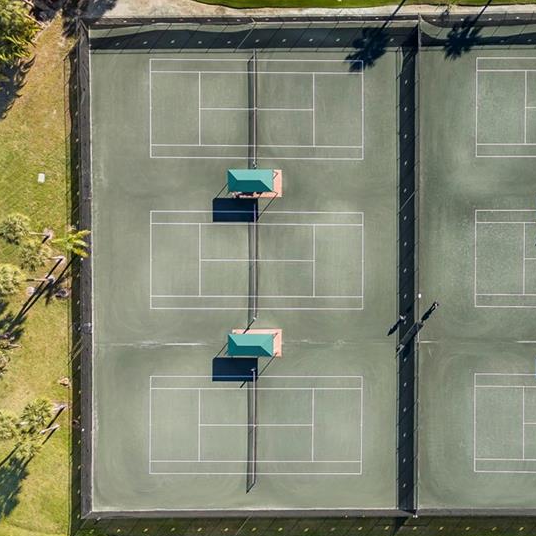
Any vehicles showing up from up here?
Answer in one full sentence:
No, no vehicle is visible in the view.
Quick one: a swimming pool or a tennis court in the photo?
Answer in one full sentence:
Visible in the photo is a tennis court.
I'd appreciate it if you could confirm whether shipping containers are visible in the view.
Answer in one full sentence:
No, no shipping container can be seen from above.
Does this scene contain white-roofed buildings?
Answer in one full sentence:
No, there appears to be no white-roofed building in this shot.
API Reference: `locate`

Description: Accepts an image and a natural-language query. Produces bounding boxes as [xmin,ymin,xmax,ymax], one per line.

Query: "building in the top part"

[228,169,282,197]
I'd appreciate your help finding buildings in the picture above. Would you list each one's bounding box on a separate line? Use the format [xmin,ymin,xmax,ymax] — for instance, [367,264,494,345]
[228,329,282,357]
[228,169,282,197]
